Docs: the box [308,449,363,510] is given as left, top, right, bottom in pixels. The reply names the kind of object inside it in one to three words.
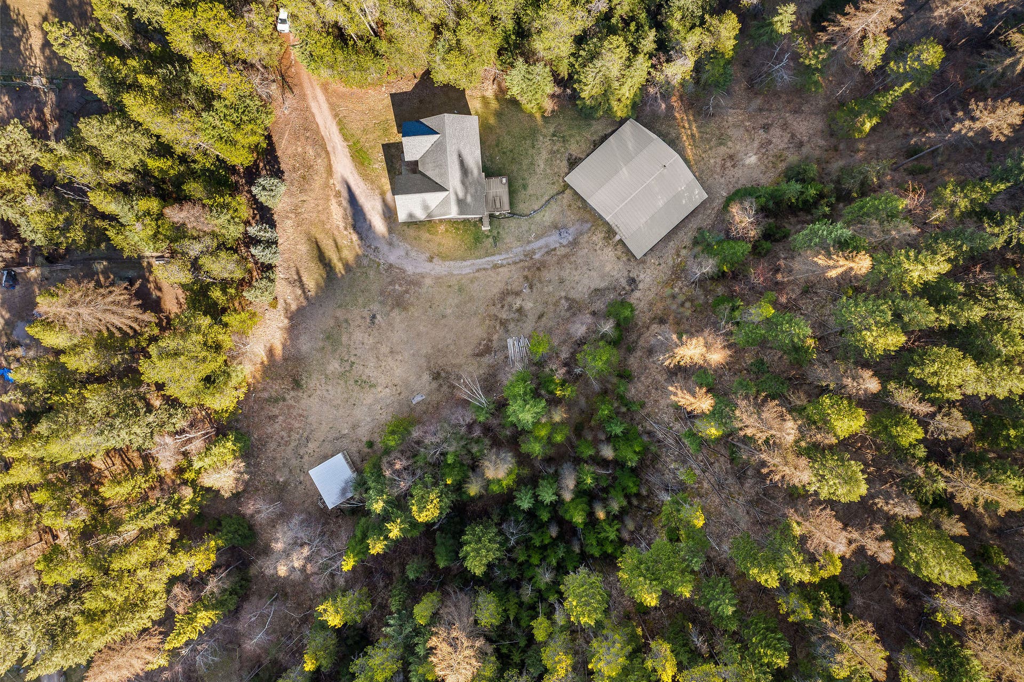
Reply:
shed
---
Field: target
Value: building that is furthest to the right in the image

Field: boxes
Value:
[565,117,706,260]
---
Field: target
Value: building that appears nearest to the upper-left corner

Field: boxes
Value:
[394,113,512,229]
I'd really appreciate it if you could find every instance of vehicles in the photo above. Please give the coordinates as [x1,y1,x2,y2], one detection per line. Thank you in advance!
[276,7,292,40]
[0,264,19,296]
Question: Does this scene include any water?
No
